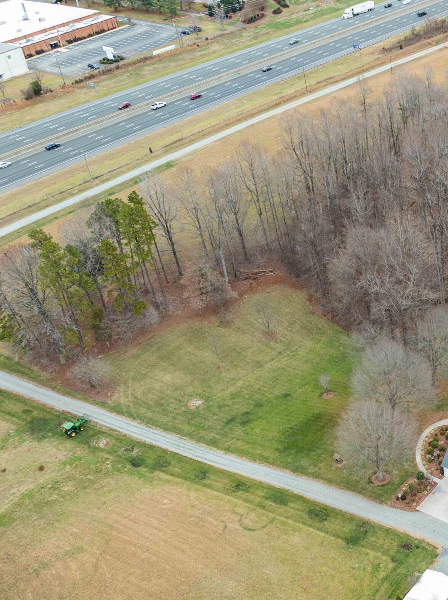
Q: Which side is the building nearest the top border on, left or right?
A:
left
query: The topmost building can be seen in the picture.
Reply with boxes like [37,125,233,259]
[0,0,120,58]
